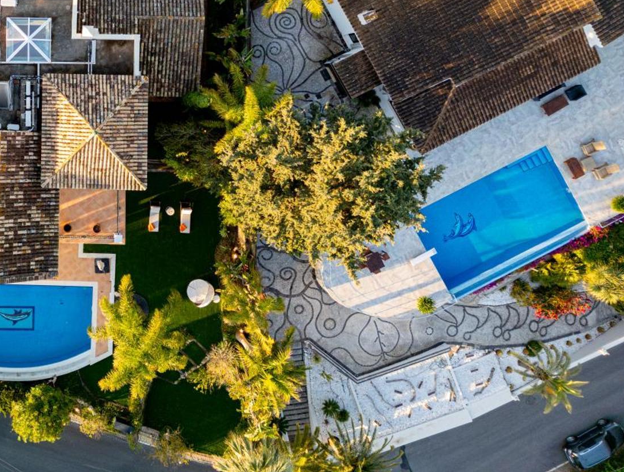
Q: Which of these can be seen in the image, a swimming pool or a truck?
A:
swimming pool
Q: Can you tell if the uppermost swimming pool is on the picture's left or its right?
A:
right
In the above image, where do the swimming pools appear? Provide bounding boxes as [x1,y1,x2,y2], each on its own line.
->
[414,146,589,311]
[0,278,111,389]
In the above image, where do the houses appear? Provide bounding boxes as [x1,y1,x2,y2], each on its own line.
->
[324,0,624,152]
[0,0,208,287]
